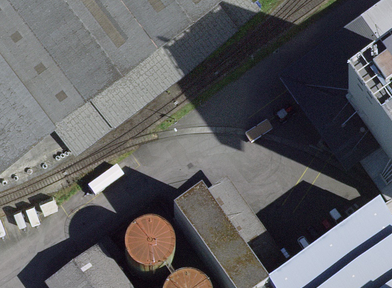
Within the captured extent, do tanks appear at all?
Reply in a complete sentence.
Yes, a tank can be made out from above.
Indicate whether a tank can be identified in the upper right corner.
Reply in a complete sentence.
No, I can find no tank in the upper right corner.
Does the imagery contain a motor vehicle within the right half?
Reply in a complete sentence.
Yes, within the right half there is a motor vehicle.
